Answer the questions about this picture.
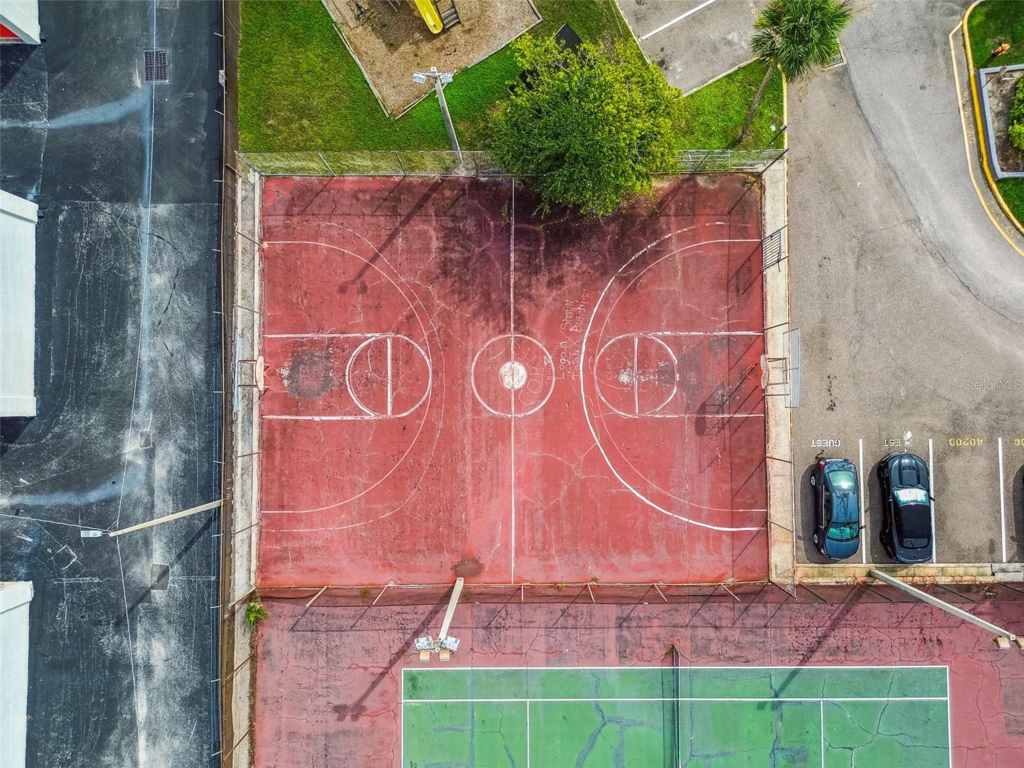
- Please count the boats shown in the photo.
0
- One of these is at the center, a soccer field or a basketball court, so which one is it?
basketball court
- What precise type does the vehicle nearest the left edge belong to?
automobile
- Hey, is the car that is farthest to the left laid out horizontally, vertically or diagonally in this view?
vertically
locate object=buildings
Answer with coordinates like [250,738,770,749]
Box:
[0,187,43,418]
[0,582,32,768]
[0,0,45,44]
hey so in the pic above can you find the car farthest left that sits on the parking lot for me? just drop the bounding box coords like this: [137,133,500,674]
[809,455,868,560]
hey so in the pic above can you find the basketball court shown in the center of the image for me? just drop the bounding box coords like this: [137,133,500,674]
[257,174,772,587]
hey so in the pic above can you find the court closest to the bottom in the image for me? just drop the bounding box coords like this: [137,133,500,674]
[254,580,1024,768]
